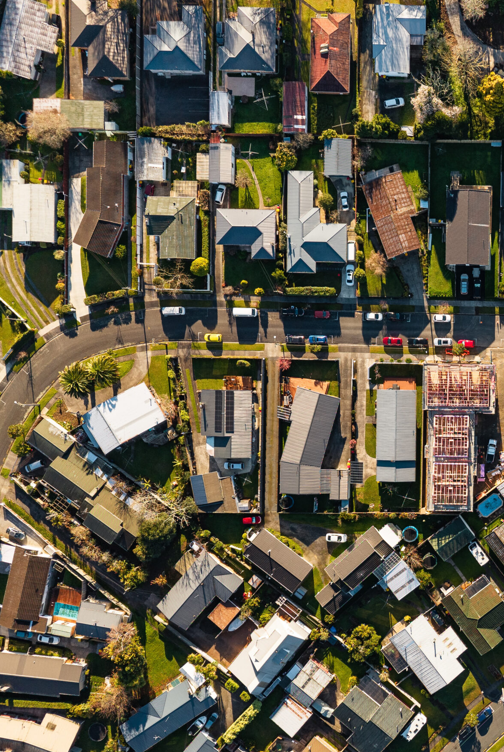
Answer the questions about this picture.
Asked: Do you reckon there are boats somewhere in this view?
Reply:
Yes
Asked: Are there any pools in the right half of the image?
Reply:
Yes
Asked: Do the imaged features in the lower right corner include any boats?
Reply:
Yes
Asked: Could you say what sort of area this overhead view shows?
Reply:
residential area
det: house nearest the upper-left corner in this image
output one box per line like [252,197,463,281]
[0,0,60,83]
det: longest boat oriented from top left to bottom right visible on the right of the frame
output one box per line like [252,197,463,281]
[470,543,491,567]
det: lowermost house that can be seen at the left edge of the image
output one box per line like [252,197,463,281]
[0,710,84,752]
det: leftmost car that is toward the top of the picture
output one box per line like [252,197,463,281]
[144,183,157,199]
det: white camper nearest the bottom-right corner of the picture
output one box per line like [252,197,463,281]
[401,708,428,741]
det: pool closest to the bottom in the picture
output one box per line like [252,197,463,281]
[53,603,80,619]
